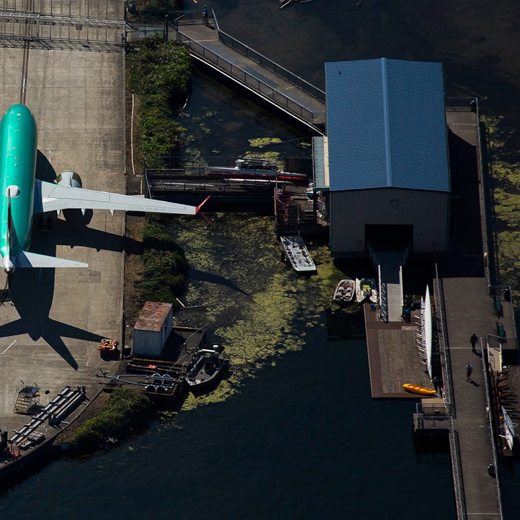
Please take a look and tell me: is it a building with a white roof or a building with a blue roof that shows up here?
building with a blue roof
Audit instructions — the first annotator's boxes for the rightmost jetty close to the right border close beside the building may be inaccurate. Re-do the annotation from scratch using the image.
[436,106,518,520]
